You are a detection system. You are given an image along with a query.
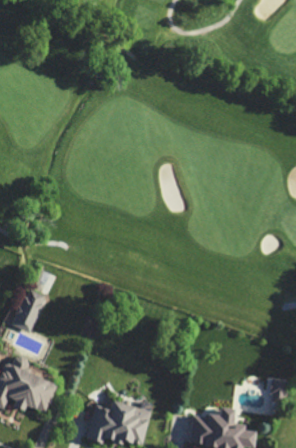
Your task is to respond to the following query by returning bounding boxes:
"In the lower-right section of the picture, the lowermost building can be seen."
[192,408,258,448]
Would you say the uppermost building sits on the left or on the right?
left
